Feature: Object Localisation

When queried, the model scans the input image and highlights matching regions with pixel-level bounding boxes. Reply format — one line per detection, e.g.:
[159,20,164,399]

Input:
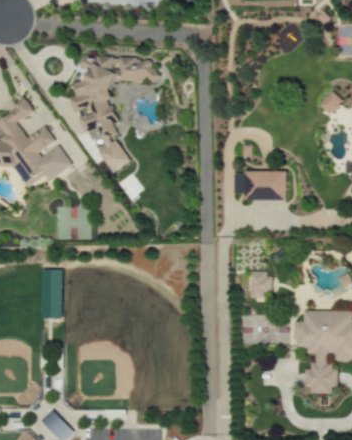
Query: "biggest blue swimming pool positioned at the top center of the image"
[138,98,159,125]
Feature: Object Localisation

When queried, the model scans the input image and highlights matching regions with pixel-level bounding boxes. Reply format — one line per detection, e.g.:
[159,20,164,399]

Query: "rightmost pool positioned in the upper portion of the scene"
[331,128,348,160]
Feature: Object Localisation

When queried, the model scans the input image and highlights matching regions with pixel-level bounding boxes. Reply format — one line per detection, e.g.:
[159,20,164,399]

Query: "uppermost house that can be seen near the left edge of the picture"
[0,95,74,186]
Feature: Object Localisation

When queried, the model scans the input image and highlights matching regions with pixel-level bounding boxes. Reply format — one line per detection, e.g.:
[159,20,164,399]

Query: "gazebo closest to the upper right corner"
[322,92,342,113]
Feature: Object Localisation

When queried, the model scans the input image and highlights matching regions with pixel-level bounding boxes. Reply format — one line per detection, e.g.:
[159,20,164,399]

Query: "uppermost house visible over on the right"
[235,172,288,200]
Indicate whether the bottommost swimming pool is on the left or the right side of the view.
right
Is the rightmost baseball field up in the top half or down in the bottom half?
bottom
